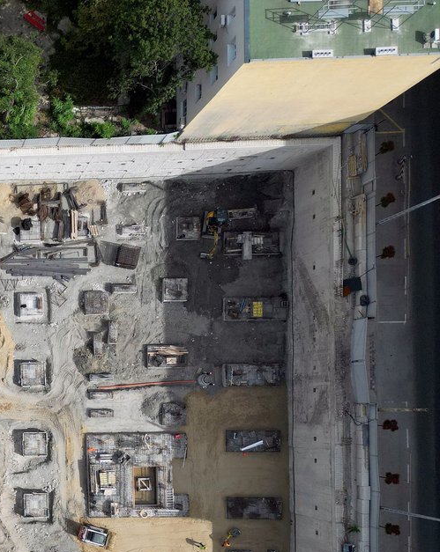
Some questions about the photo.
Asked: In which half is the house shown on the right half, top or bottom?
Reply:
top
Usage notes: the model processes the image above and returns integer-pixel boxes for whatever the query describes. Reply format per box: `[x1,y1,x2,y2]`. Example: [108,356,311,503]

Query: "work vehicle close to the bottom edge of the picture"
[69,522,111,547]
